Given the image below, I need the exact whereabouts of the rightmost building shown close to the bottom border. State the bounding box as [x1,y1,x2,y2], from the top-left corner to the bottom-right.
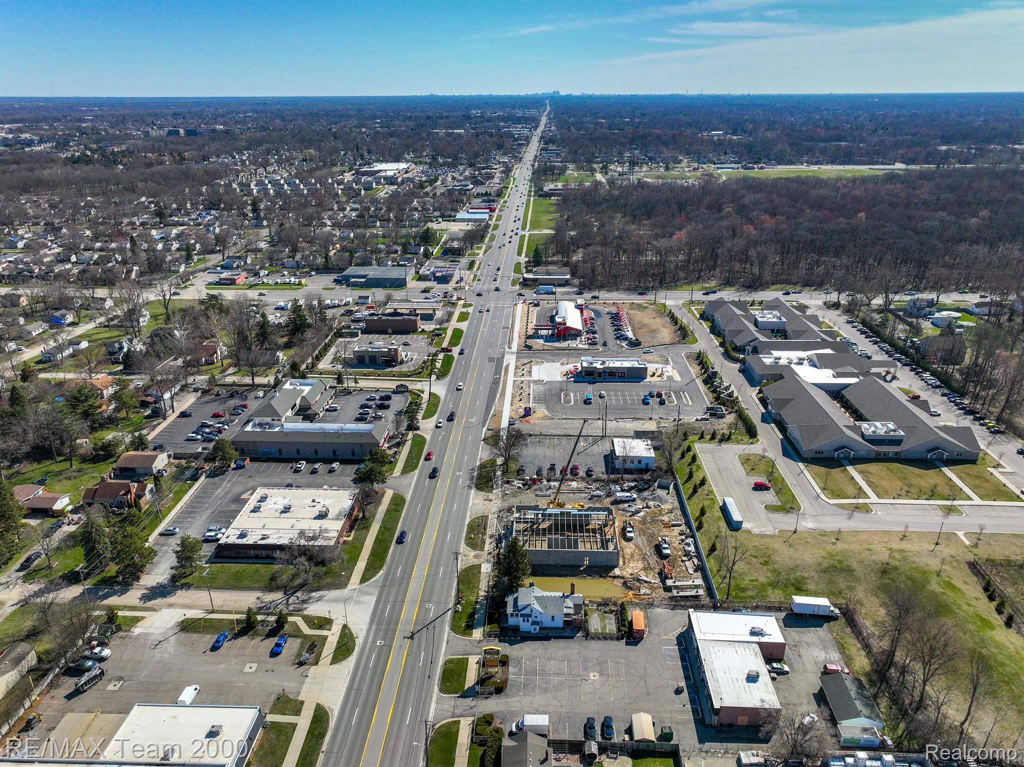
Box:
[817,669,892,736]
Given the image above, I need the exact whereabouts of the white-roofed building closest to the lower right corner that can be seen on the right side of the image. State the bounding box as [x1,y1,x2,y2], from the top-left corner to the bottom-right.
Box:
[680,609,785,728]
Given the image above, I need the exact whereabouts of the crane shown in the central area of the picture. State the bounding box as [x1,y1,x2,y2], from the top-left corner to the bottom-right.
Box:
[545,419,587,509]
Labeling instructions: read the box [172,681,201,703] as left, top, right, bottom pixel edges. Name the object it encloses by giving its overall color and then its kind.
white vehicle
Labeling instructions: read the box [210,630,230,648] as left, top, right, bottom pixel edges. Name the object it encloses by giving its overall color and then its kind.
blue car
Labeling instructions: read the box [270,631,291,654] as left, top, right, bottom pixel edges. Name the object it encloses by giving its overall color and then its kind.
blue truck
